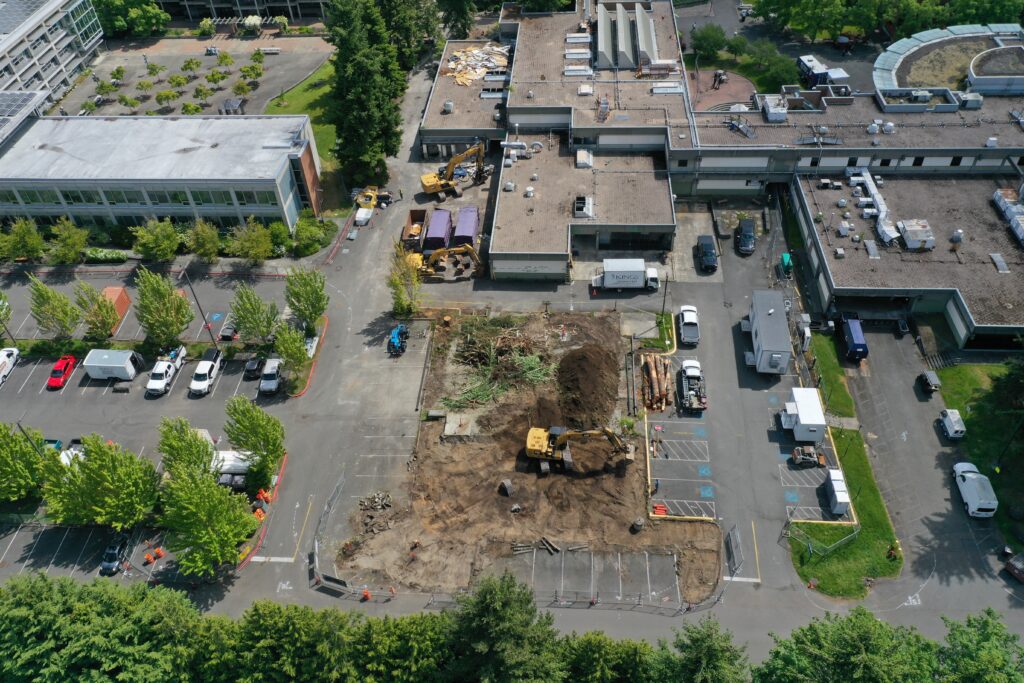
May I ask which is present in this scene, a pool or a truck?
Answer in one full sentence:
This aerial view contains a truck.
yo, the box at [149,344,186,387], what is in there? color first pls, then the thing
white truck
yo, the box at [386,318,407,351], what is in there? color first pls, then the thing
blue work vehicle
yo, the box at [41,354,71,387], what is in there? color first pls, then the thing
red car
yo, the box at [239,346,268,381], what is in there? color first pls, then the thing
black car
